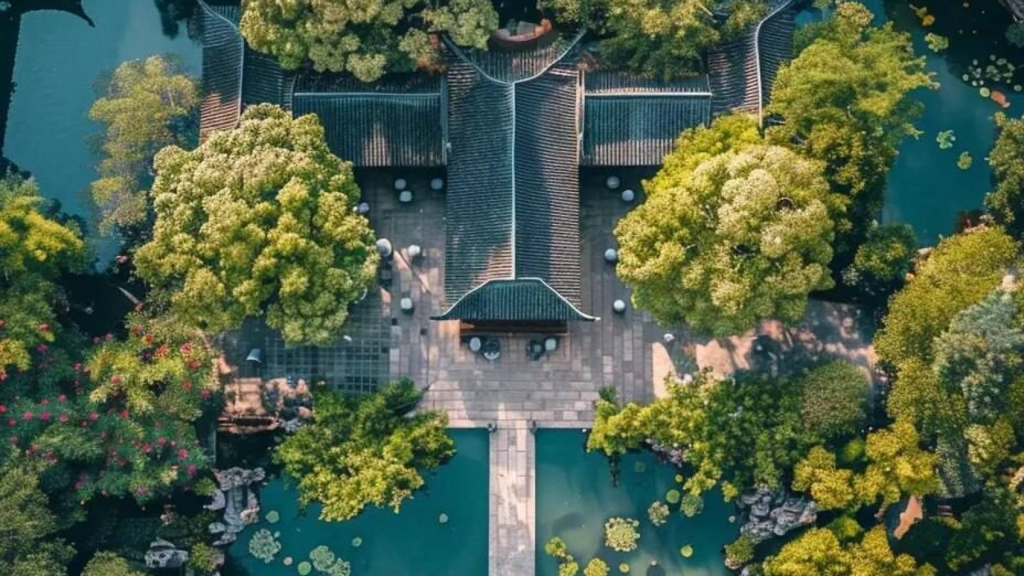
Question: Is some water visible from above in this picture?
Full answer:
Yes, water can be seen from above here.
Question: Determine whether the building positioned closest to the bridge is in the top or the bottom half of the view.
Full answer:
It is in the top half that the building positioned closest to the bridge appears.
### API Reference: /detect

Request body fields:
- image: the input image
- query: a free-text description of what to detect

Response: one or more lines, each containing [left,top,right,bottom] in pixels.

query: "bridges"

[489,428,535,576]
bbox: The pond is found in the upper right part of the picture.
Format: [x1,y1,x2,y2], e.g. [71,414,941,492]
[794,0,1024,249]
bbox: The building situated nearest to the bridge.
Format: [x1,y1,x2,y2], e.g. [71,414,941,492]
[425,41,601,336]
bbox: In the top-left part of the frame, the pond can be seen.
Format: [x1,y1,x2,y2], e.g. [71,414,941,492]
[1,0,201,282]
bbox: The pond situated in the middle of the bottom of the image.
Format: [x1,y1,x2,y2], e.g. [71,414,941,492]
[219,416,739,576]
